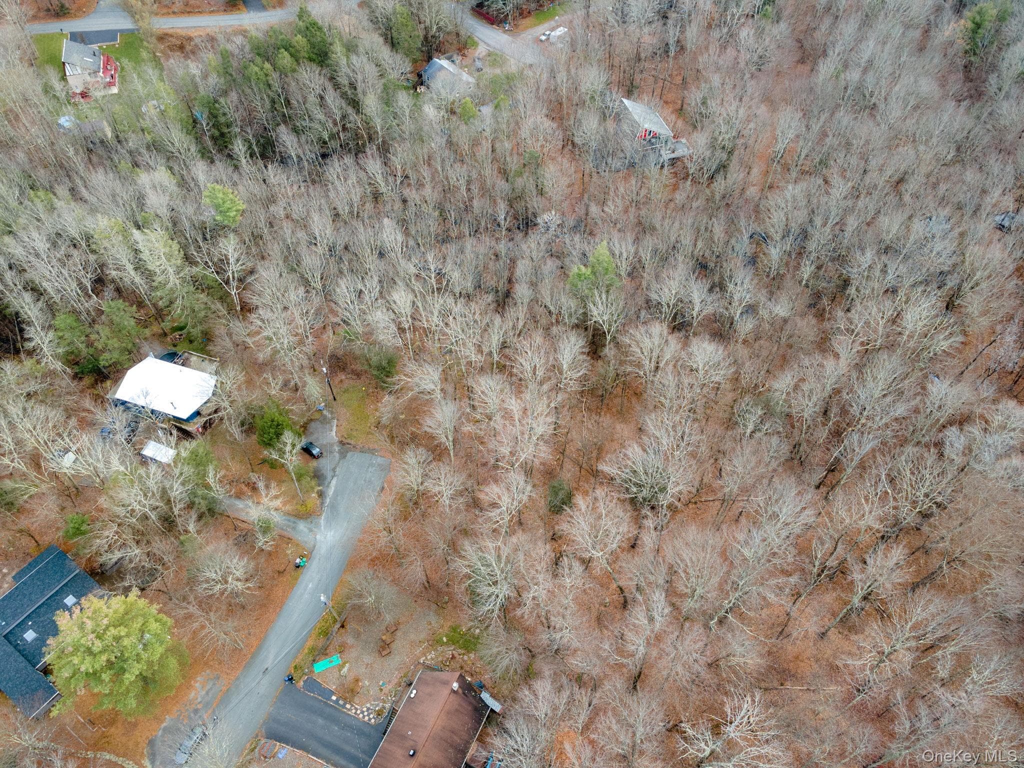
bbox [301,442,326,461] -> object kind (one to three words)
car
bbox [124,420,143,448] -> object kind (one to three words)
vehicle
